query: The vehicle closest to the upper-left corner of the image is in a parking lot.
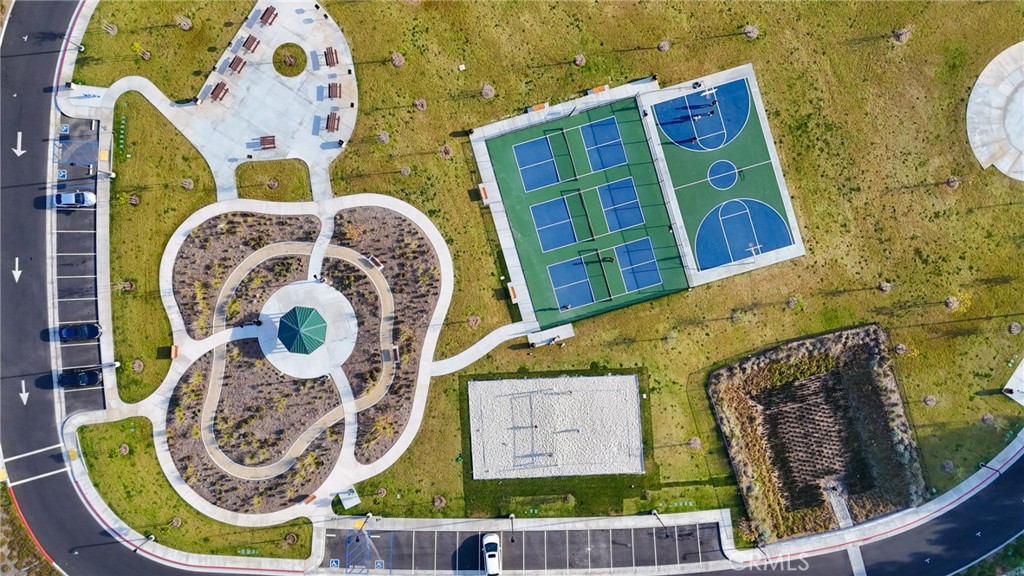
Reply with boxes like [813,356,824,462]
[54,189,96,208]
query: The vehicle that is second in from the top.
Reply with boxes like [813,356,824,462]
[59,323,101,342]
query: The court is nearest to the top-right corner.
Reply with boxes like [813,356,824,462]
[653,77,797,272]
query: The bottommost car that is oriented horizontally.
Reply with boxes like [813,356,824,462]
[58,370,101,388]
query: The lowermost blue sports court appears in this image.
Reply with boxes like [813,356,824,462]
[548,237,663,312]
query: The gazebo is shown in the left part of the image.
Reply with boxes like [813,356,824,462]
[278,306,326,354]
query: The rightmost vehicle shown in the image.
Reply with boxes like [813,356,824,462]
[481,533,501,576]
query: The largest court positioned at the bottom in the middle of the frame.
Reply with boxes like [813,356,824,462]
[468,374,645,480]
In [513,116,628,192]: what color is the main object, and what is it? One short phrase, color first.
blue sports court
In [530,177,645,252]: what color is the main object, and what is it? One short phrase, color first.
blue sports court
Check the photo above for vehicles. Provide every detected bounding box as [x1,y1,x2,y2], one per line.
[59,323,101,342]
[481,533,501,576]
[54,189,96,208]
[58,370,101,388]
